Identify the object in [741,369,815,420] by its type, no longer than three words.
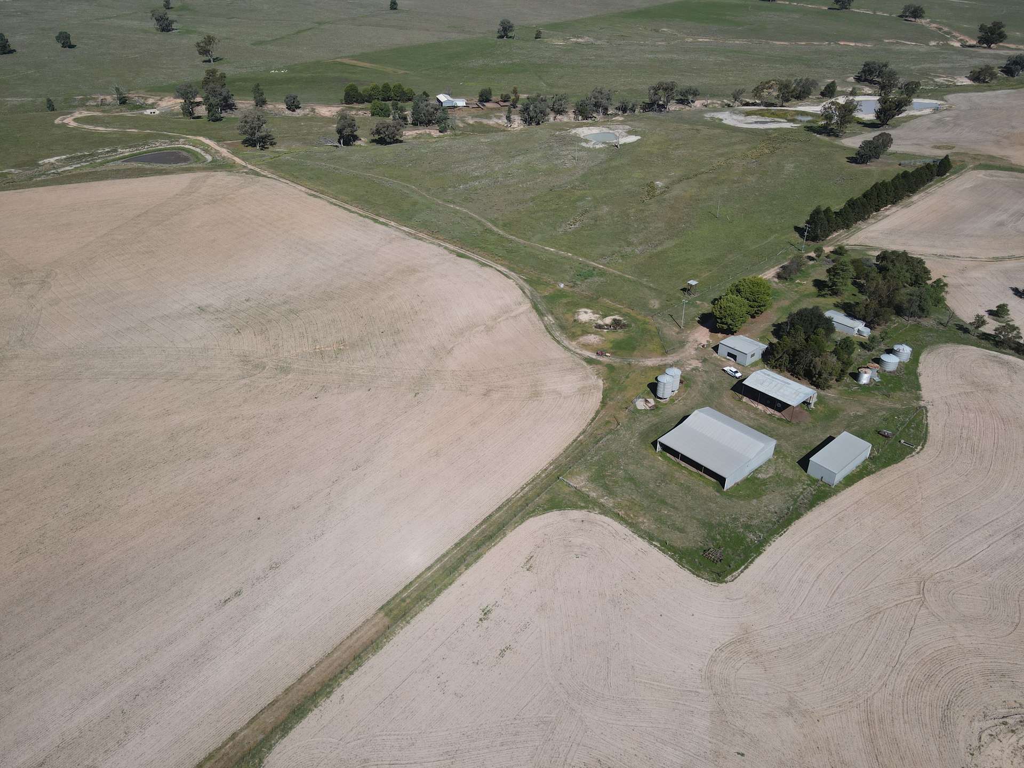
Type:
shed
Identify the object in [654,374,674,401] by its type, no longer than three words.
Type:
silo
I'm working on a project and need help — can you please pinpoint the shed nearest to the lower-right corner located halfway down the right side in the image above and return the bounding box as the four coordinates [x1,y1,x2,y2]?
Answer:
[806,429,874,487]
